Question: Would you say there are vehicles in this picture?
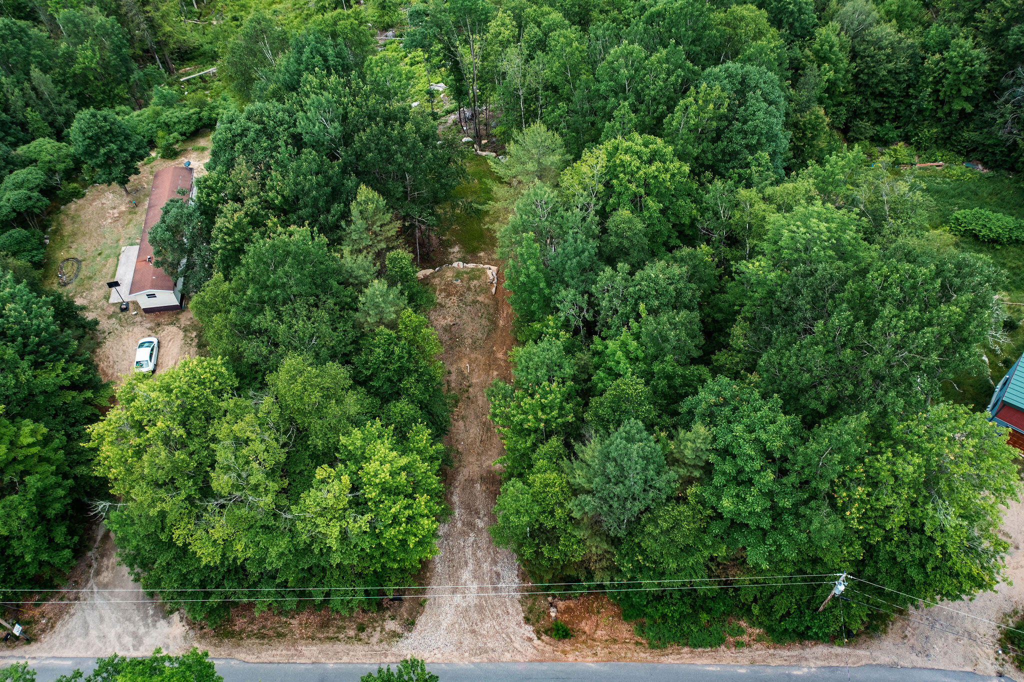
Yes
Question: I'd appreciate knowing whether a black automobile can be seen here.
No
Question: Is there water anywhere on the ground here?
No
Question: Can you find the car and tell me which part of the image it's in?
left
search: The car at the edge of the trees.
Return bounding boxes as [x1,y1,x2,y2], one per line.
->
[133,336,159,374]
